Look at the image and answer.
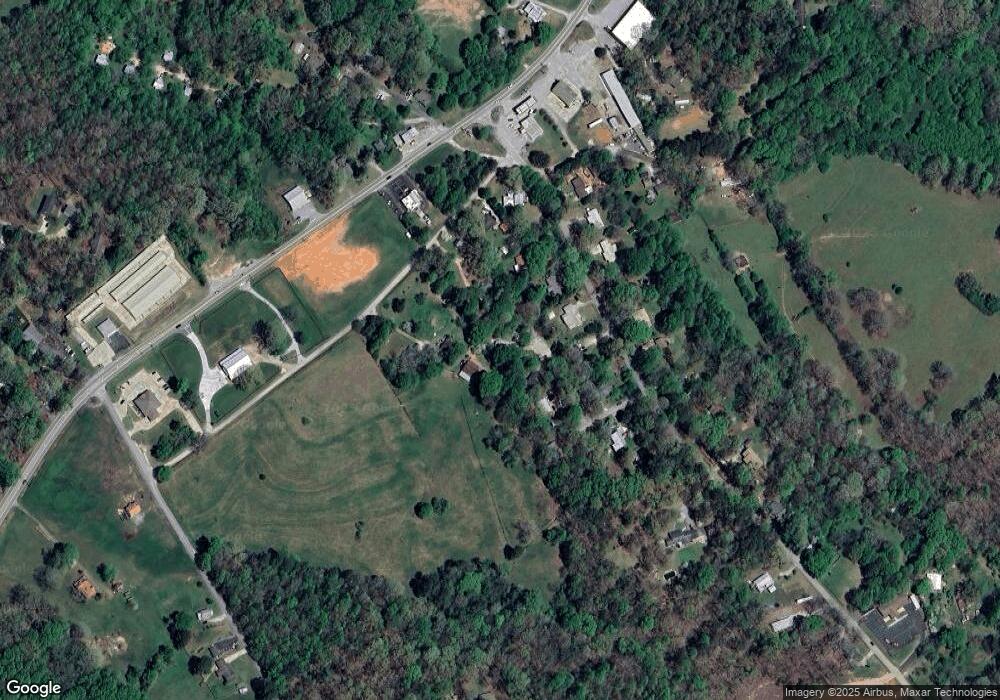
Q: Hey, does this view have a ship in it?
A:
No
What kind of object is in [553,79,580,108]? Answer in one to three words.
building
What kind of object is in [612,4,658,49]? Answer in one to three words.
building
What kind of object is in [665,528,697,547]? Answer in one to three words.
house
